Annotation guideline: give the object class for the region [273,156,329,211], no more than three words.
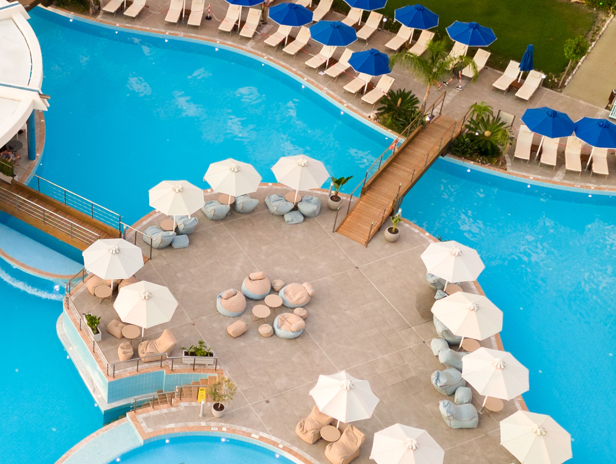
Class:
umbrella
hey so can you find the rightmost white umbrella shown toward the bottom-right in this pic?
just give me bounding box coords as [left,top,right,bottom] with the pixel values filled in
[495,414,568,464]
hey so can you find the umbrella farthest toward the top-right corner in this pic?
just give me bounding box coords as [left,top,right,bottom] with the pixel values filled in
[514,45,533,92]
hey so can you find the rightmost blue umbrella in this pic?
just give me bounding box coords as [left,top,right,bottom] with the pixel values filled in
[574,118,616,170]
